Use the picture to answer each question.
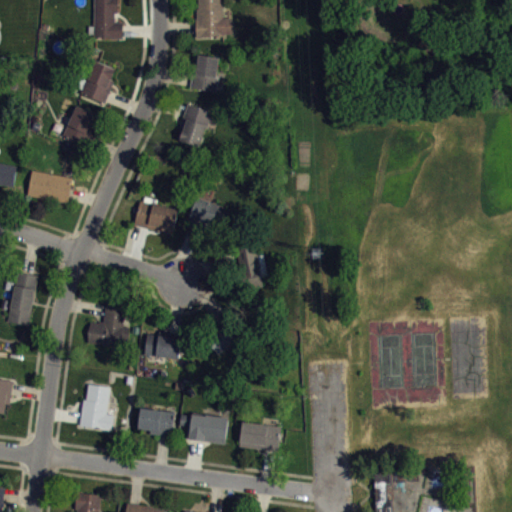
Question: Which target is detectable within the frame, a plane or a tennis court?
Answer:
tennis court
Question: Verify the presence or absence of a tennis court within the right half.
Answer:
Yes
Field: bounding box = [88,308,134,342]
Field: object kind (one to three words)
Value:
house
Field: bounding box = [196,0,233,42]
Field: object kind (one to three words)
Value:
house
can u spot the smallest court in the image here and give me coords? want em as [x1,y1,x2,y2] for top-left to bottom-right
[450,315,488,400]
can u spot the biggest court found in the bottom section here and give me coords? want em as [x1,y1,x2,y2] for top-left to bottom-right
[370,321,445,405]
